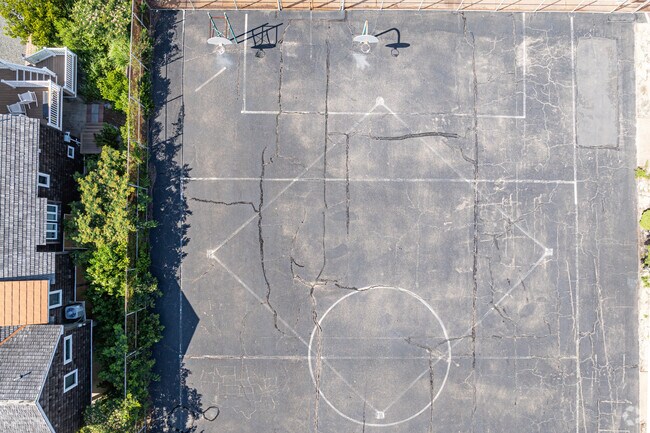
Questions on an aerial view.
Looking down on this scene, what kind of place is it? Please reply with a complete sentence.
The area seen from above is a sports ground.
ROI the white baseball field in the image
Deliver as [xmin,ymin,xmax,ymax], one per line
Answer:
[209,100,552,417]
